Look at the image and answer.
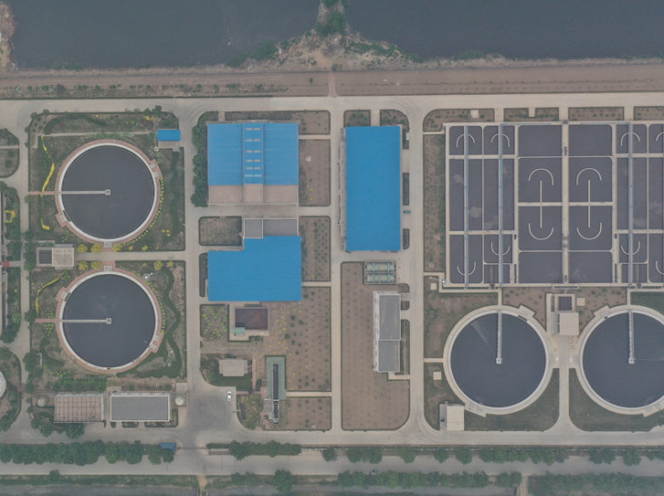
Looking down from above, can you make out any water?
Yes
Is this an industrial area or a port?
industrial area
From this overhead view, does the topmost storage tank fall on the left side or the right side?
left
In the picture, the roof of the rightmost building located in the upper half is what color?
blue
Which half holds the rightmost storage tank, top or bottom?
bottom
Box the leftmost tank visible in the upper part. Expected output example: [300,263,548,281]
[55,139,163,249]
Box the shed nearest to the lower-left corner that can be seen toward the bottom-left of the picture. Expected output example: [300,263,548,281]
[55,393,104,422]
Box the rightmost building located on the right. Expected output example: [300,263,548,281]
[552,294,579,335]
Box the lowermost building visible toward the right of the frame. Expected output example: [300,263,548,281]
[439,401,465,432]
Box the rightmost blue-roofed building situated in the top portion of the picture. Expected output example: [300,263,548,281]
[337,124,403,252]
